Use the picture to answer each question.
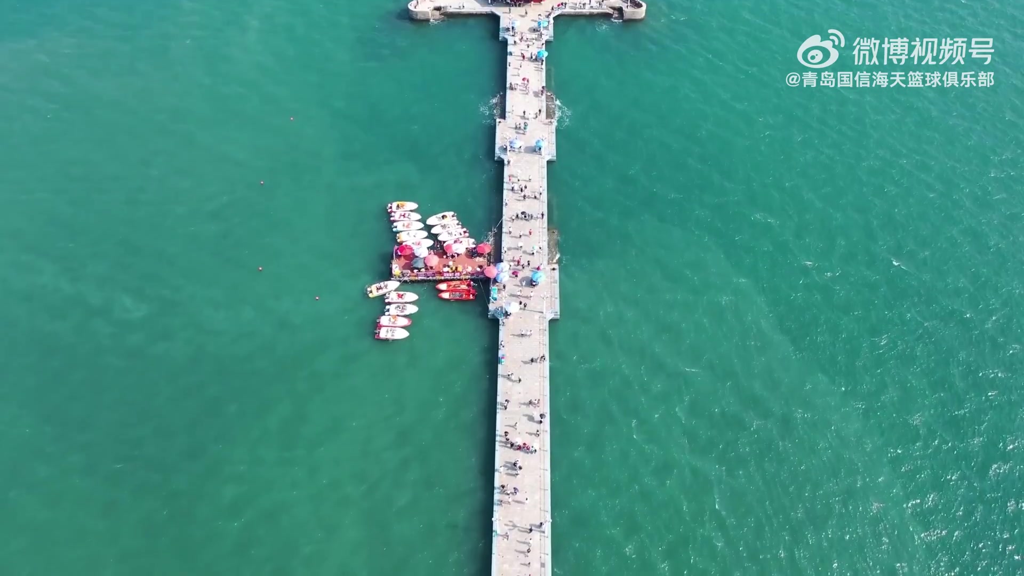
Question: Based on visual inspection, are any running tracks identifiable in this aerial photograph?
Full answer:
No, the frame has no running track in it.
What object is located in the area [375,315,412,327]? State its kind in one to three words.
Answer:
boat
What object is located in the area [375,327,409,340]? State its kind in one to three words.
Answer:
boat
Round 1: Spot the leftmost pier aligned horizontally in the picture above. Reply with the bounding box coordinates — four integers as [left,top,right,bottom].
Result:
[393,246,493,281]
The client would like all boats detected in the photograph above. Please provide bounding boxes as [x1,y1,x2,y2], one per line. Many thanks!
[399,238,434,249]
[438,229,468,242]
[390,212,422,222]
[385,292,418,303]
[366,281,400,297]
[431,221,463,234]
[436,282,473,291]
[438,291,477,300]
[385,304,418,315]
[426,212,458,225]
[388,202,418,212]
[396,230,428,242]
[393,220,424,231]
[375,327,409,340]
[444,237,477,249]
[375,315,412,327]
